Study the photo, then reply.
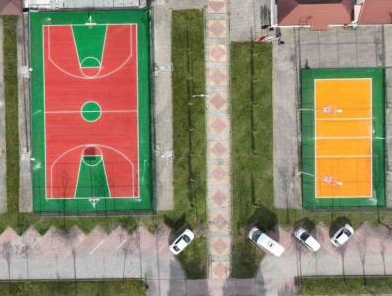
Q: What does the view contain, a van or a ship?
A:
van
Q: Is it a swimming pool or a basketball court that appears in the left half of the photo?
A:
basketball court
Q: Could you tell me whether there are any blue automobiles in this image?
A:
No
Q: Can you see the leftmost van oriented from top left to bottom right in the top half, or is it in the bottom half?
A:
bottom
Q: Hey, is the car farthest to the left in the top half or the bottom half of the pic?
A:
bottom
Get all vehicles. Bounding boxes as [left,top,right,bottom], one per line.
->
[293,226,322,252]
[329,222,354,247]
[248,226,287,258]
[167,229,194,256]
